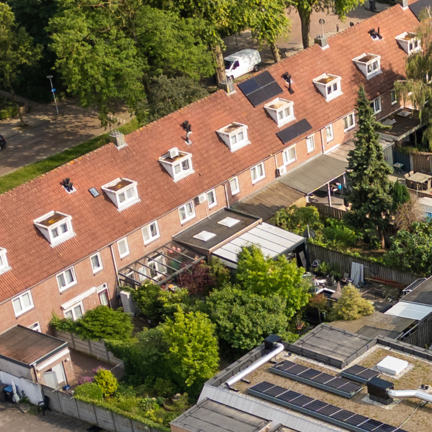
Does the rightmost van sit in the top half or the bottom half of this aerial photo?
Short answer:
top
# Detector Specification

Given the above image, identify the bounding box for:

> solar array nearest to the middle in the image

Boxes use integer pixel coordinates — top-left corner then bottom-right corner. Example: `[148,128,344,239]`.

[277,118,313,141]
